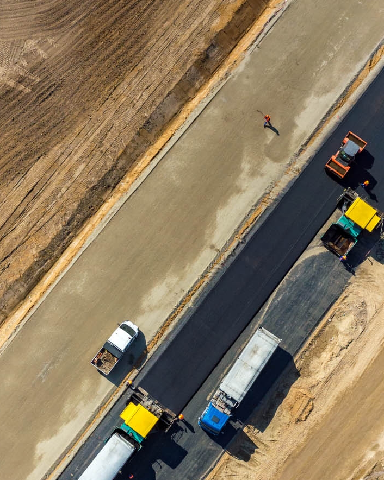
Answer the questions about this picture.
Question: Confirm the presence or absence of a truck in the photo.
Yes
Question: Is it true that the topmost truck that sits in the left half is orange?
No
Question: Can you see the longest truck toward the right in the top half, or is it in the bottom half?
bottom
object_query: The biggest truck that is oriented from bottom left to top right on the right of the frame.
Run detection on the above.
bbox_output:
[195,325,283,440]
